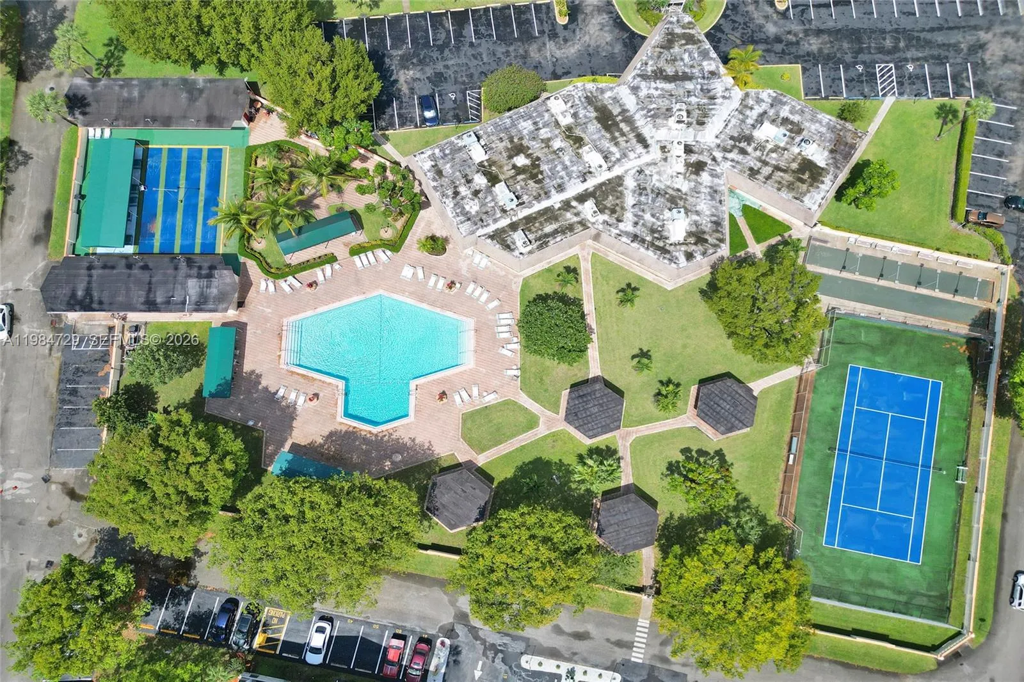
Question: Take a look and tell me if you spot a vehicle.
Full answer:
Yes, the picture does show a vehicle.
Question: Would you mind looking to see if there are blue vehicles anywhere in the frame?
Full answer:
Yes, I can see a blue vehicle in this picture.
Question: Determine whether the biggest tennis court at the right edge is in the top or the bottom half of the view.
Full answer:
The bottom half of the photo is where the biggest tennis court at the right edge is.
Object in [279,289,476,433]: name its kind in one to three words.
swimming pool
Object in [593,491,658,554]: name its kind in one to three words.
gazebo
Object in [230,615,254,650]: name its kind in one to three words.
car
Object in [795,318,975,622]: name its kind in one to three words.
tennis court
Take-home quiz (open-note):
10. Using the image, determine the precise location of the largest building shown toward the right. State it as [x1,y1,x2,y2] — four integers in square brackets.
[404,11,871,280]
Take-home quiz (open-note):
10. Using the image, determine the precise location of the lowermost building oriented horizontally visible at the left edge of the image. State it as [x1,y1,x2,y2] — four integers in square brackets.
[40,257,240,314]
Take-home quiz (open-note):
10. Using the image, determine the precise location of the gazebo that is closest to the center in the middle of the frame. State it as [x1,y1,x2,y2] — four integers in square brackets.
[559,382,625,444]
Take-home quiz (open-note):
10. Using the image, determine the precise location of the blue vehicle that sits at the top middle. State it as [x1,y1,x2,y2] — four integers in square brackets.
[419,90,438,126]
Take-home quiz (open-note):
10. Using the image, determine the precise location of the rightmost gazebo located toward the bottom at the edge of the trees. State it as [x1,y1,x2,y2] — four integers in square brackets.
[687,378,757,441]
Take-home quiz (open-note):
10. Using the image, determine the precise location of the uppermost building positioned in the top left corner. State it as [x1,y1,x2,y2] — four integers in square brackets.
[64,78,251,132]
